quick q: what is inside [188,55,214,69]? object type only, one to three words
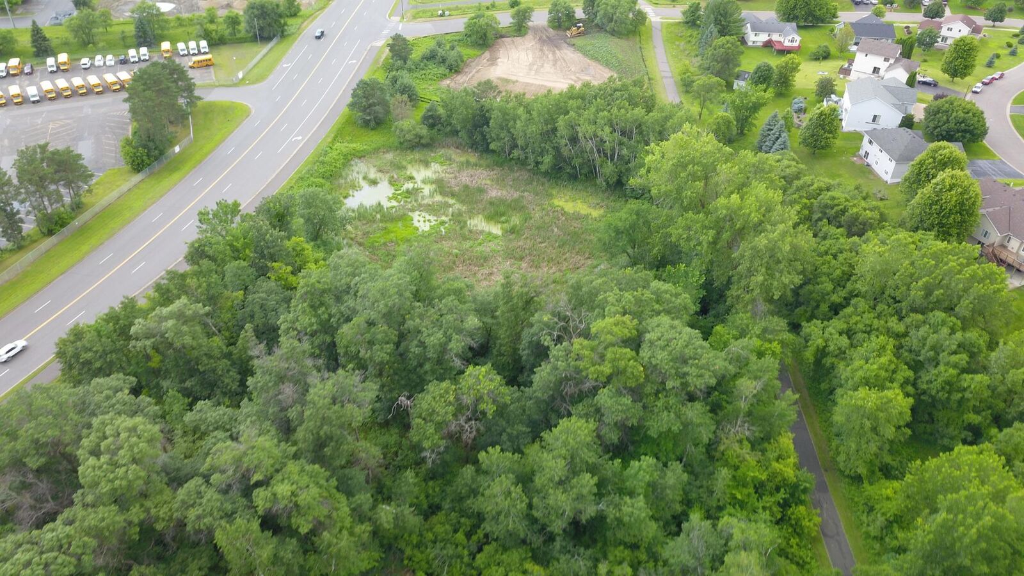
vehicle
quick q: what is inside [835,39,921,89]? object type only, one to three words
house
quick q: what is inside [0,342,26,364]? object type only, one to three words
car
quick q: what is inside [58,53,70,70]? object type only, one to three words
vehicle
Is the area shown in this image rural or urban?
rural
